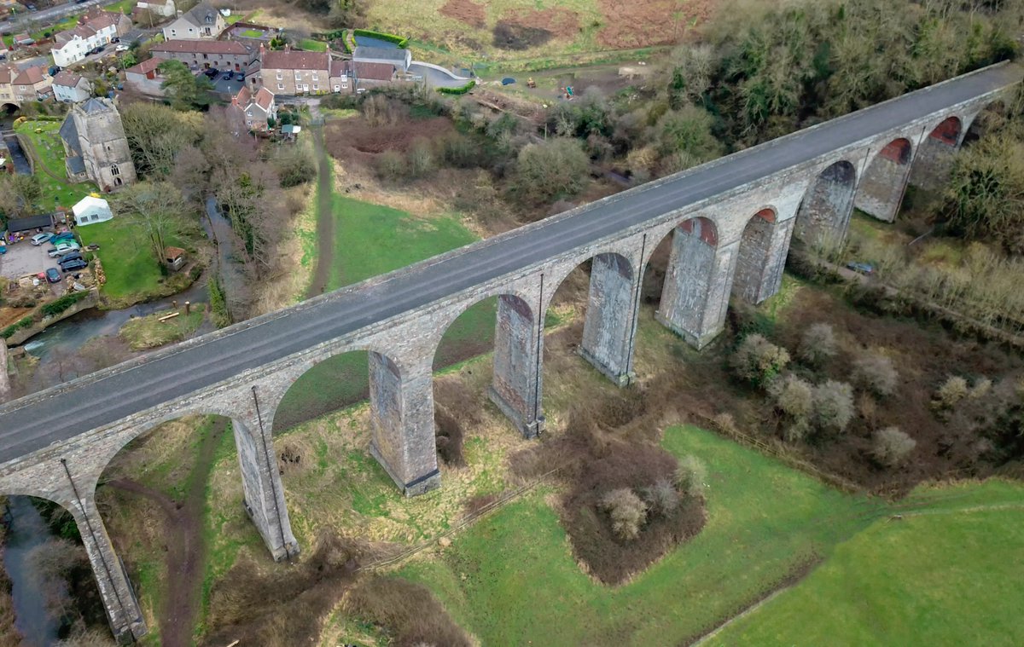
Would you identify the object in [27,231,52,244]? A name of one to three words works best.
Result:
vehicle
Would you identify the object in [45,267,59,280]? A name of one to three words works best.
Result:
vehicle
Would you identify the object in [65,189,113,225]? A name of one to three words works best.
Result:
tent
